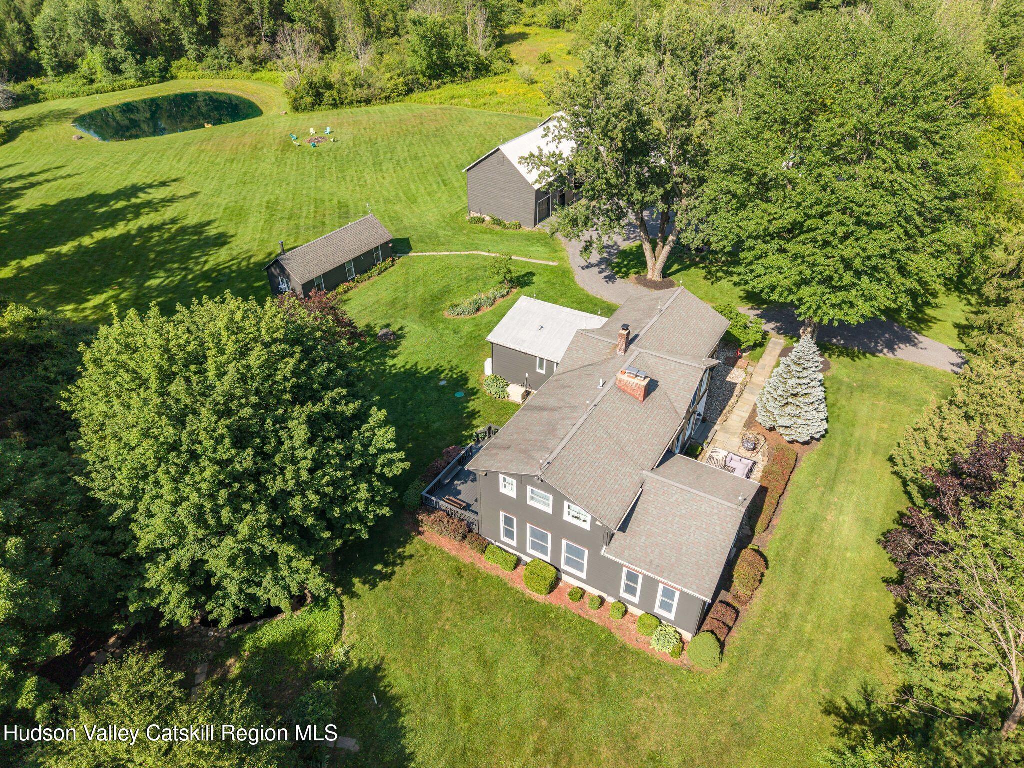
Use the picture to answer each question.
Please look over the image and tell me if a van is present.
No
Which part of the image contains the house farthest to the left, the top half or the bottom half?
top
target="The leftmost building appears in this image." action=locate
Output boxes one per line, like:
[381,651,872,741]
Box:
[264,203,392,296]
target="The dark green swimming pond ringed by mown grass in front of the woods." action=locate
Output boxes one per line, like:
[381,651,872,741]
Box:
[71,91,264,143]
